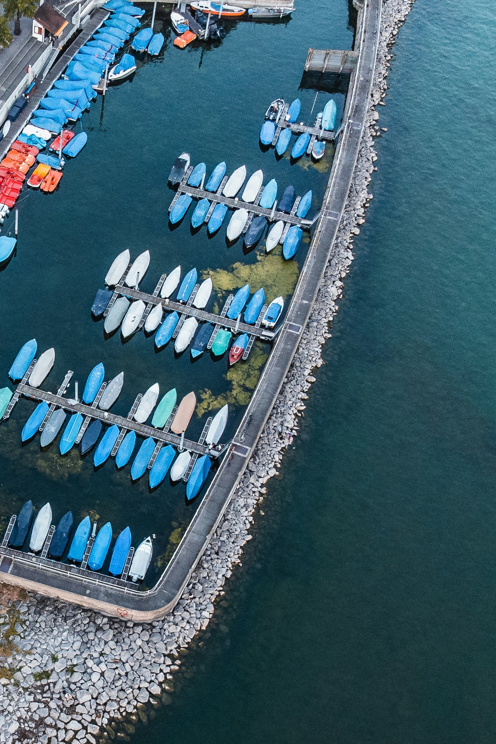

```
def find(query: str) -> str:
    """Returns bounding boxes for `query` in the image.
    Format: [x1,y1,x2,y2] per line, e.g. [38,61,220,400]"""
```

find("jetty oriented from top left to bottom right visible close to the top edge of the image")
[173,10,212,44]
